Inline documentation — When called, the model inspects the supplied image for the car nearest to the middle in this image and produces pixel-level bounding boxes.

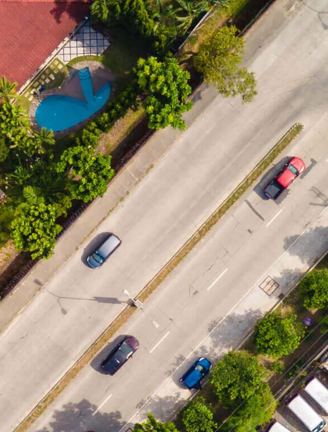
[89,233,121,270]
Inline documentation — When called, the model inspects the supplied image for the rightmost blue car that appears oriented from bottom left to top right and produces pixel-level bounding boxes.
[181,357,211,389]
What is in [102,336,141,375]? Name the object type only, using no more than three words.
car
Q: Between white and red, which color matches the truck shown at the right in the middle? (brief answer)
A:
red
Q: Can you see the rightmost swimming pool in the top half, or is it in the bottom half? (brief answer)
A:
top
